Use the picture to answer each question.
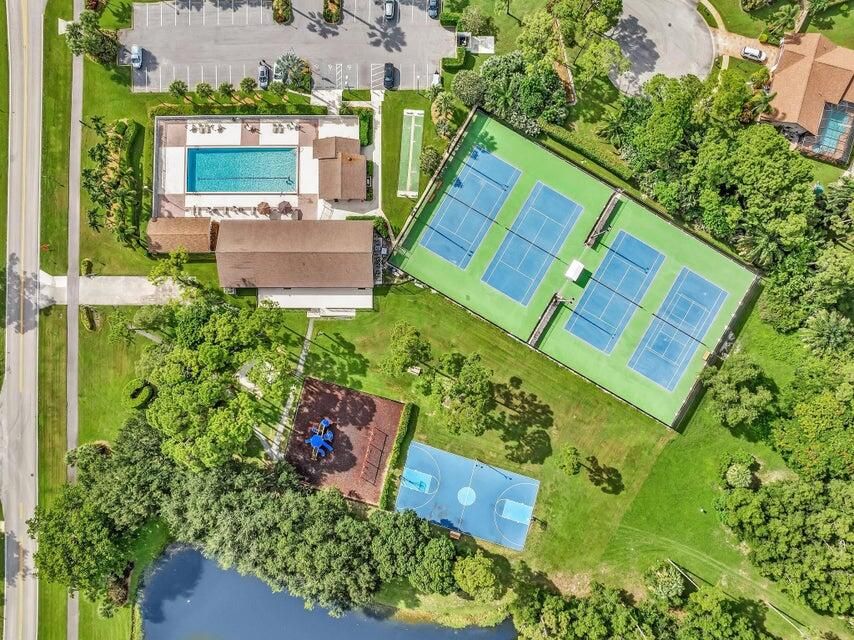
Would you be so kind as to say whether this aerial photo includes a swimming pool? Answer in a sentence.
Yes, you can see a swimming pool in this photo.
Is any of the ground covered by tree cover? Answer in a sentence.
Yes, there is tree cover in the image.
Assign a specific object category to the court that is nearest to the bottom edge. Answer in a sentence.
The court that is nearest to the bottom edge is a basketball court.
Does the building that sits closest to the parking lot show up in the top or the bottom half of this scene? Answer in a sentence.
The building that sits closest to the parking lot is in the top half of the image.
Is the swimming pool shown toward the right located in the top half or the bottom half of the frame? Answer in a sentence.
The swimming pool shown toward the right sits in the top half of the picture.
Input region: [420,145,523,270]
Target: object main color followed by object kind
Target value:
blue tennis court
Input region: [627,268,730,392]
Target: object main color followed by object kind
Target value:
blue tennis court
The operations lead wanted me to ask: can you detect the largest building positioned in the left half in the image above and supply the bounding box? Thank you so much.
[216,219,373,309]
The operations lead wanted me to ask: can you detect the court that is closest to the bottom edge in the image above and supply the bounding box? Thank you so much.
[394,444,540,547]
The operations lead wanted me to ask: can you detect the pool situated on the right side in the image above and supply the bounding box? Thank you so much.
[817,106,850,150]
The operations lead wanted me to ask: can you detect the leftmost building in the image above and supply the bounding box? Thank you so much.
[146,218,213,252]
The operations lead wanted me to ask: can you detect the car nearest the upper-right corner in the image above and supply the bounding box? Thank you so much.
[741,45,766,62]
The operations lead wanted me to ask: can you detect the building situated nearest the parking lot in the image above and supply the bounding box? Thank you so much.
[313,137,366,199]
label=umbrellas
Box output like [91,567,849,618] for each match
[258,202,271,215]
[294,209,305,219]
[279,201,292,214]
